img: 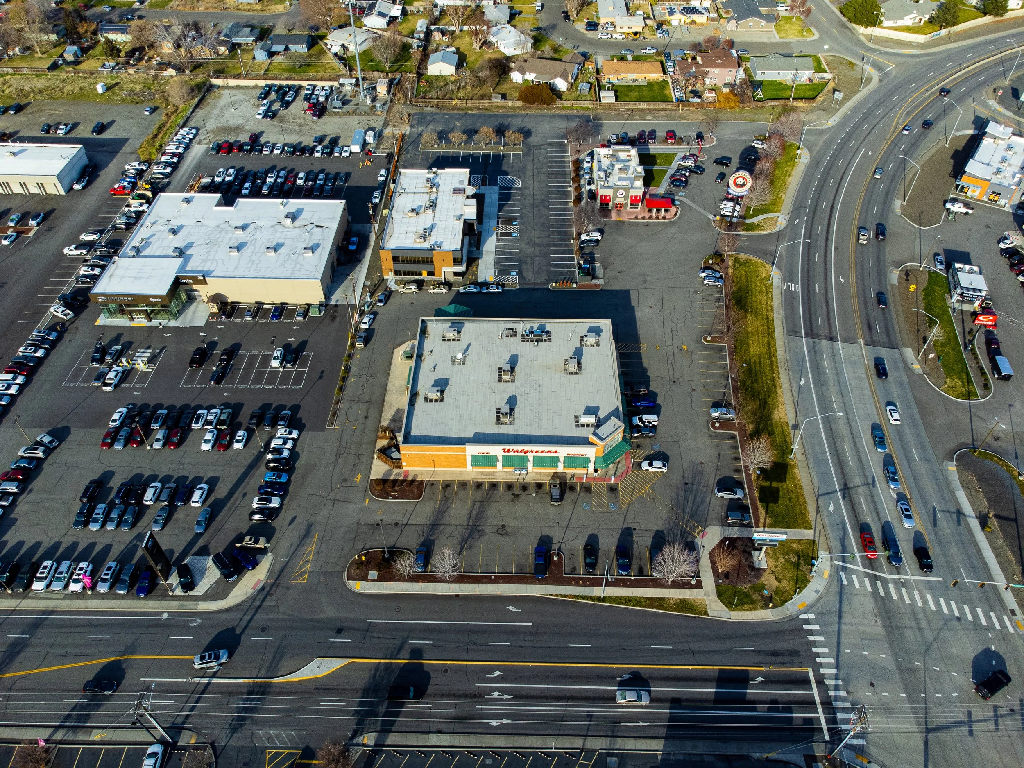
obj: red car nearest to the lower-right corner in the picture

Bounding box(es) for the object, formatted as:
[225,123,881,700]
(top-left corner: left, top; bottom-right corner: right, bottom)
[858,533,880,560]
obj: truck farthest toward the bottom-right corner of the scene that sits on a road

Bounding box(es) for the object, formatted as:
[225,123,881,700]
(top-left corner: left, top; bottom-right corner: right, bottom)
[973,670,1011,703]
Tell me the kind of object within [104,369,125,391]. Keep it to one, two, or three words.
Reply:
truck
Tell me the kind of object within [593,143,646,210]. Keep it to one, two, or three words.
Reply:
building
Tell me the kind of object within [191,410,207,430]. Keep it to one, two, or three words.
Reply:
car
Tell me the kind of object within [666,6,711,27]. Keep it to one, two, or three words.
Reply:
house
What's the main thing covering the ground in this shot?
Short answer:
paved ground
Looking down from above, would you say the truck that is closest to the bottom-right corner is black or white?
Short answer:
black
